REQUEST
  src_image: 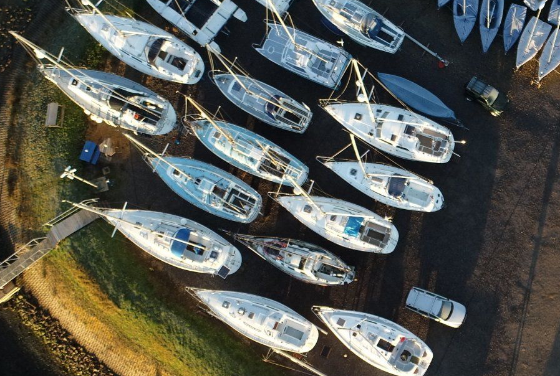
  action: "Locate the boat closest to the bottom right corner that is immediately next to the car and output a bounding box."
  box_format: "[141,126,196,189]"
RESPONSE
[307,305,438,375]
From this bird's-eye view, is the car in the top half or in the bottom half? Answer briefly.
bottom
